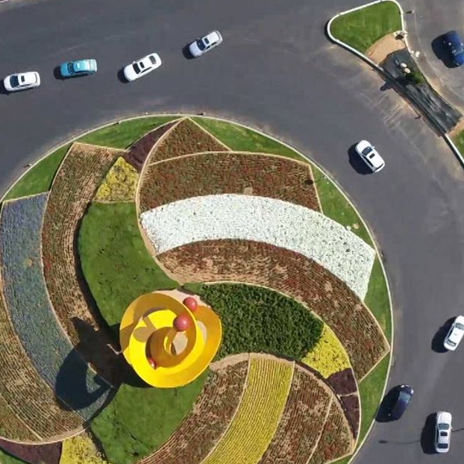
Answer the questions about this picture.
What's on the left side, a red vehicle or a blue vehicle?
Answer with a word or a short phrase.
blue vehicle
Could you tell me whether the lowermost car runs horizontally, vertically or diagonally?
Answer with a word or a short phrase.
vertically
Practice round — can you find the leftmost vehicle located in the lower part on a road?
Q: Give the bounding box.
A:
[388,384,415,421]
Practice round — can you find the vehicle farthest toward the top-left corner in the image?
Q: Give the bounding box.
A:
[7,72,40,90]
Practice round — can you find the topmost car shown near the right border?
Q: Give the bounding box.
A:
[441,29,464,68]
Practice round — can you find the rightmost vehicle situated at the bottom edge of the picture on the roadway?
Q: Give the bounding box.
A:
[433,413,452,450]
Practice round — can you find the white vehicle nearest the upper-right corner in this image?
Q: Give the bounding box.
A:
[353,139,386,174]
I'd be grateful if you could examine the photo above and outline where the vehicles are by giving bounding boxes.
[7,72,40,90]
[388,384,415,421]
[353,139,386,174]
[125,54,162,82]
[187,29,224,57]
[442,315,464,352]
[61,58,97,77]
[433,413,452,450]
[441,29,464,68]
